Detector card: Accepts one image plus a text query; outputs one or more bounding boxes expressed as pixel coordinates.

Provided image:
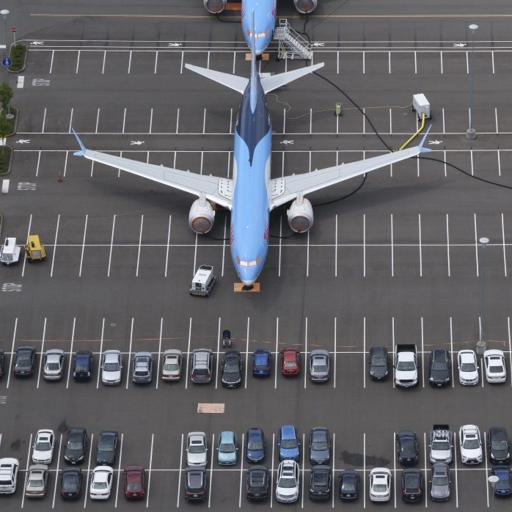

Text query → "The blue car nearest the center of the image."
[251,349,274,376]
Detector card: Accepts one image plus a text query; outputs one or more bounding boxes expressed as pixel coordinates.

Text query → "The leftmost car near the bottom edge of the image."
[0,458,20,493]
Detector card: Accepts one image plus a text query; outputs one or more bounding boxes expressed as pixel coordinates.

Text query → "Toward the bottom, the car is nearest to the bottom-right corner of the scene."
[490,463,512,495]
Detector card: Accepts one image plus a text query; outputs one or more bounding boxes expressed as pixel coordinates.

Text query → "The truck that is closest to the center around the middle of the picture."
[188,260,217,291]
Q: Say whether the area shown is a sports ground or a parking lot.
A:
parking lot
